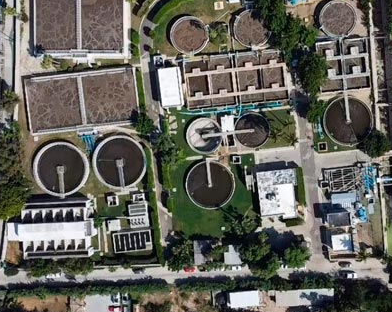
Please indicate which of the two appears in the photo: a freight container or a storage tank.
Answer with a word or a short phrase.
storage tank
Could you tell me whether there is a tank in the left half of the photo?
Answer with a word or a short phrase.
Yes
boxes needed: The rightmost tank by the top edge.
[317,0,357,39]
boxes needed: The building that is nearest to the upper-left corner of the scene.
[157,67,185,107]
